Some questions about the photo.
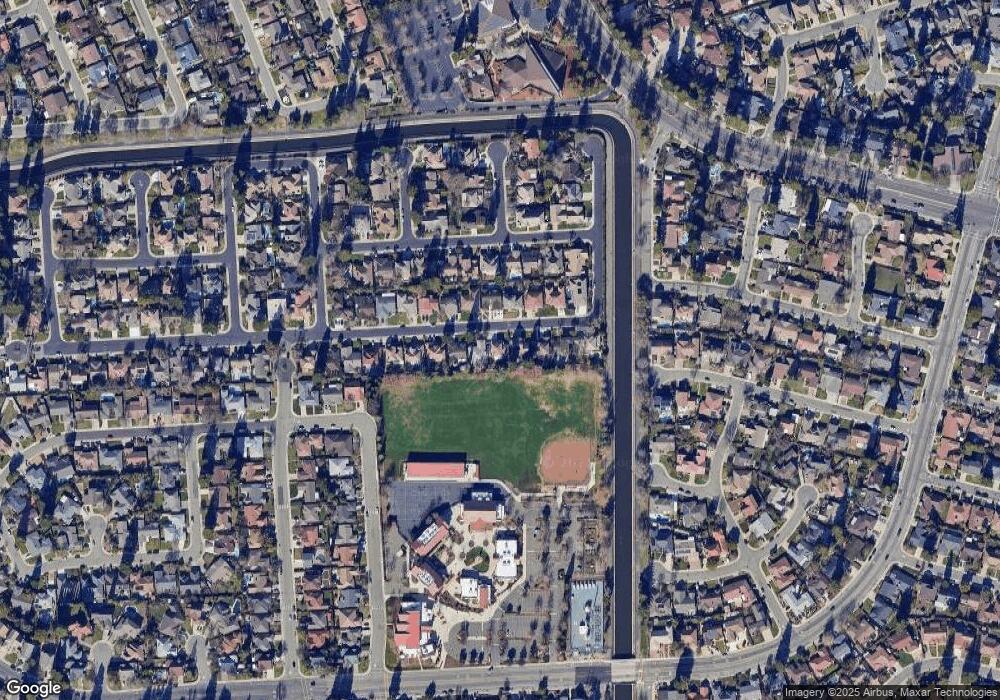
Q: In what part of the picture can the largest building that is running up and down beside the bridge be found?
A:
bottom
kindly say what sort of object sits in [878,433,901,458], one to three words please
house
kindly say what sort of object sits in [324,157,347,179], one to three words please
house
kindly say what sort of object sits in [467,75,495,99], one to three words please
building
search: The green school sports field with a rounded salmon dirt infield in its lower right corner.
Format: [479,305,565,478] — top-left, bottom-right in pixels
[386,371,599,490]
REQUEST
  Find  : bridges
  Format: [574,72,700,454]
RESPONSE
[611,658,636,684]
